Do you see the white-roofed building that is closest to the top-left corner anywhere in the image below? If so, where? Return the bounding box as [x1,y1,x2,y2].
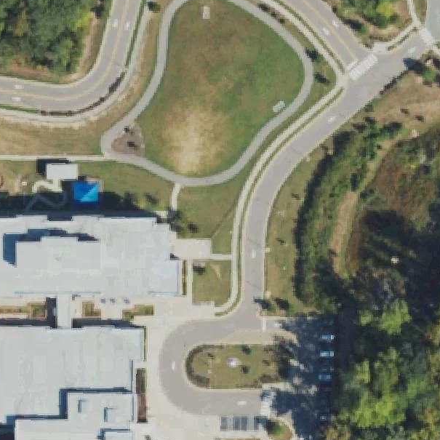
[47,164,77,179]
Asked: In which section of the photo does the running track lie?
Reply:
top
